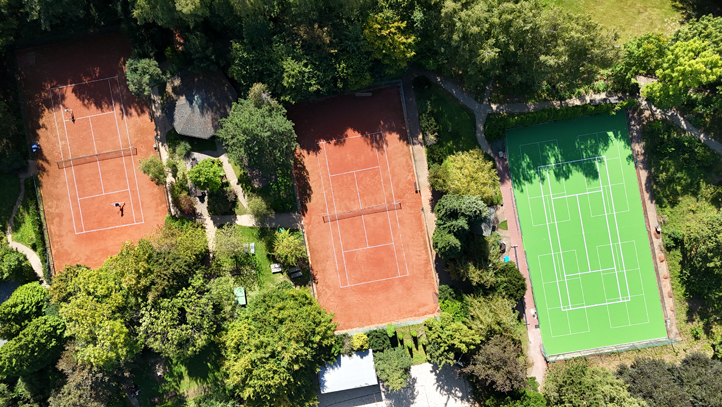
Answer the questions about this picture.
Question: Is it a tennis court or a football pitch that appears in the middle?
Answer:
tennis court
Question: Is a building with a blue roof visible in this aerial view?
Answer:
No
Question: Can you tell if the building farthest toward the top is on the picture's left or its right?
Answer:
left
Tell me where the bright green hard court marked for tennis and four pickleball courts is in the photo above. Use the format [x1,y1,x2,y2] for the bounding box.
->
[508,109,665,357]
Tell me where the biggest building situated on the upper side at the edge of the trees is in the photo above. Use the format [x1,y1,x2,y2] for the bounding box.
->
[164,68,238,138]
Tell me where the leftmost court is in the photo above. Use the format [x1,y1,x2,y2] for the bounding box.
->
[16,30,176,275]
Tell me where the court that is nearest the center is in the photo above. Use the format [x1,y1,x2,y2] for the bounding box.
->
[280,84,441,333]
